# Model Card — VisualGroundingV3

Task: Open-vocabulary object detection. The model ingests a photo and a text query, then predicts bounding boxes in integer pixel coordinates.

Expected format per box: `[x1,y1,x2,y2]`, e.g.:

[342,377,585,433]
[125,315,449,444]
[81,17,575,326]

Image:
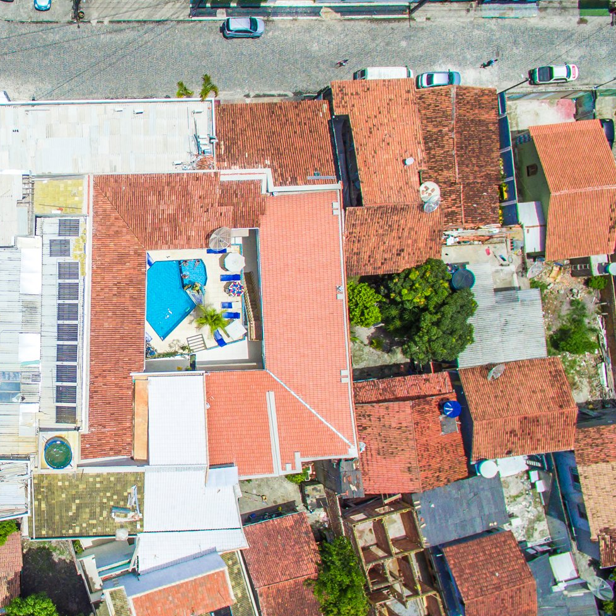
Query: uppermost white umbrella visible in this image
[222,252,244,273]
